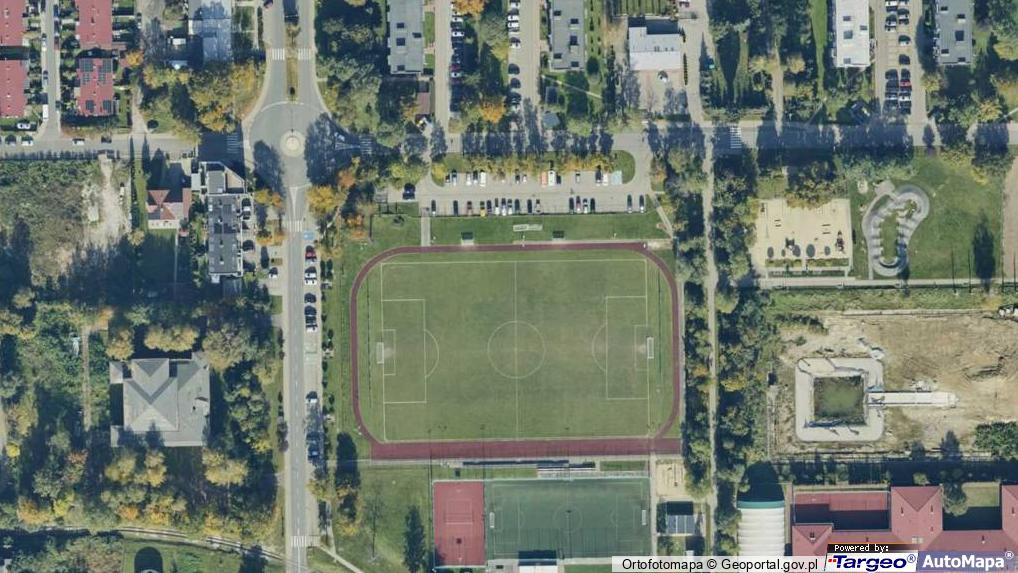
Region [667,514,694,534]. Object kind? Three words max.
building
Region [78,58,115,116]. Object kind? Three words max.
house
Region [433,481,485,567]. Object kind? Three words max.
basketball court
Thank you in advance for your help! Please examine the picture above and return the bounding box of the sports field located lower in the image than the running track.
[485,478,651,560]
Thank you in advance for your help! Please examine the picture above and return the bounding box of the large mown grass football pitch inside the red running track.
[357,249,673,442]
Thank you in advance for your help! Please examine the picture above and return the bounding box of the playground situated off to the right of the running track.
[751,198,851,276]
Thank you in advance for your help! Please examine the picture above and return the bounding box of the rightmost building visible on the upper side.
[930,0,973,67]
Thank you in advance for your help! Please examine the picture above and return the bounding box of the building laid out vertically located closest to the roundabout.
[201,161,249,283]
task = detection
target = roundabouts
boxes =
[248,97,339,189]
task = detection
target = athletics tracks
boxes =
[350,242,680,461]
